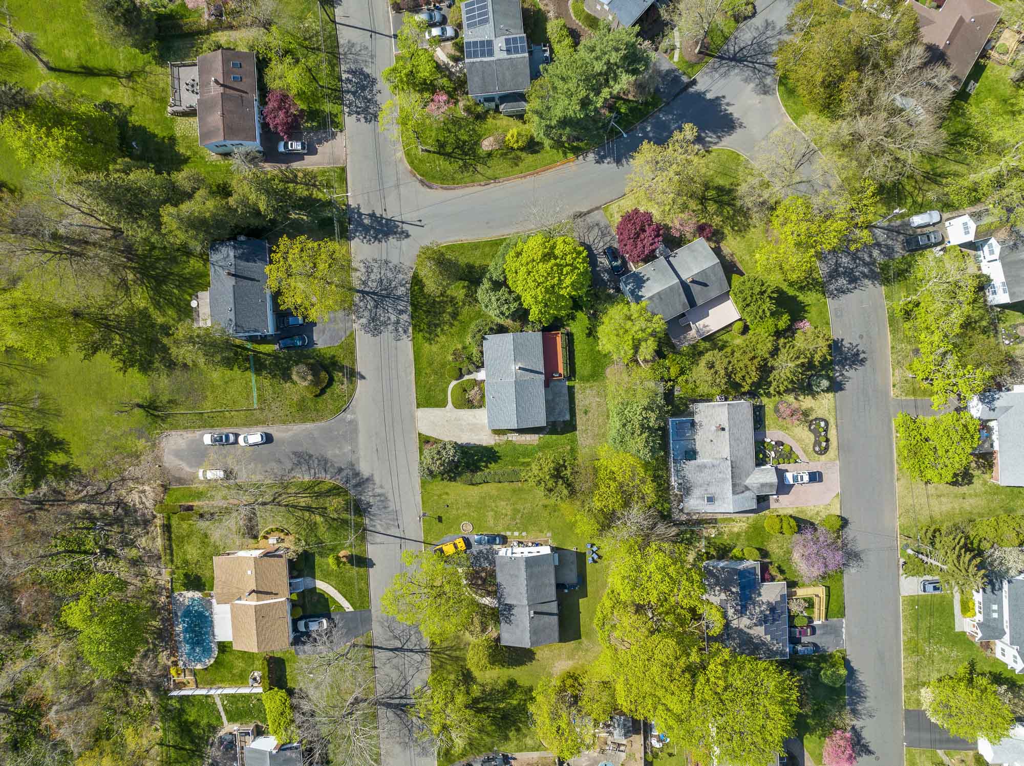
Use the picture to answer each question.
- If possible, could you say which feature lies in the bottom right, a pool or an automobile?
automobile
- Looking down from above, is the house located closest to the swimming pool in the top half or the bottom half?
bottom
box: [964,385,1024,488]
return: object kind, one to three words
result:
house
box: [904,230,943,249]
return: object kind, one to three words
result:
vehicle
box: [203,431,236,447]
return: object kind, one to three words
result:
car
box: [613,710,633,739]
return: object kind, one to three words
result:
shed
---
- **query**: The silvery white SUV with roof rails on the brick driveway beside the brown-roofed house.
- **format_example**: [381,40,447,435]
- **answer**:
[277,138,309,155]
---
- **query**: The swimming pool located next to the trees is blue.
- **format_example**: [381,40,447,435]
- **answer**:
[177,596,214,665]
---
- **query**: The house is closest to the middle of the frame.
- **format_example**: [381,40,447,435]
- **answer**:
[474,332,546,430]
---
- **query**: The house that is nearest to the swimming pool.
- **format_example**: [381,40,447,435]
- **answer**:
[213,543,303,653]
